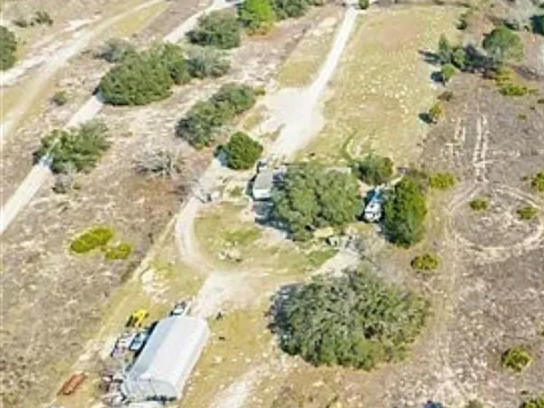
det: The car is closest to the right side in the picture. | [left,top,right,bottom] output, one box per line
[162,300,191,320]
